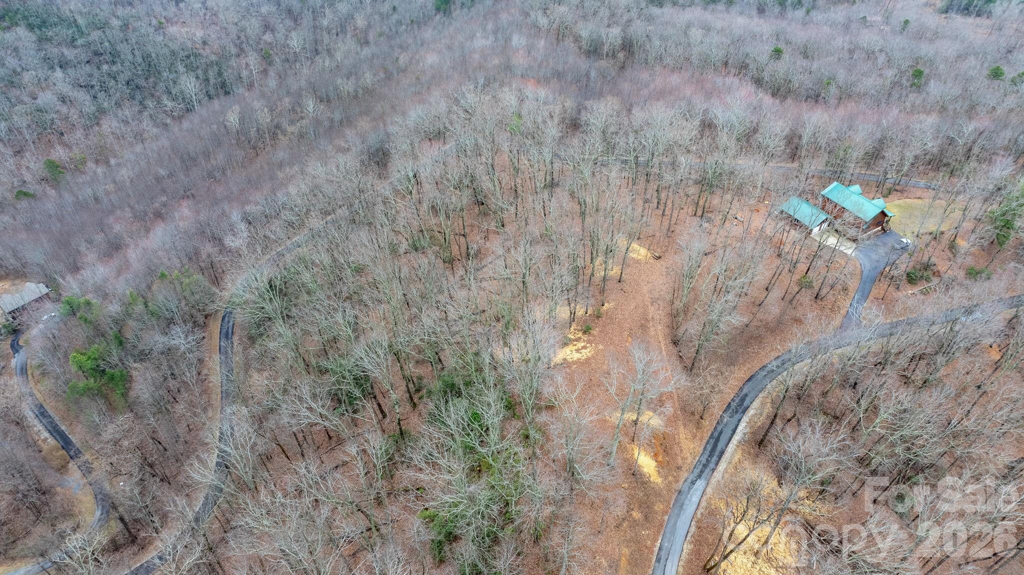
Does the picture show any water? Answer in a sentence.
No, water can't be seen anywhere here.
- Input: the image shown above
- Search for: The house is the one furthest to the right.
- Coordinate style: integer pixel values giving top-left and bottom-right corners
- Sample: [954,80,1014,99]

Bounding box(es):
[818,179,897,239]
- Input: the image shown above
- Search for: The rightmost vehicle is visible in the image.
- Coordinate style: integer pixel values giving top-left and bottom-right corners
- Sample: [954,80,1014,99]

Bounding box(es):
[893,236,915,251]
